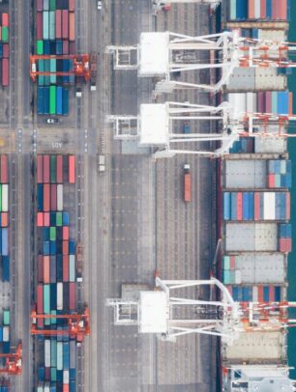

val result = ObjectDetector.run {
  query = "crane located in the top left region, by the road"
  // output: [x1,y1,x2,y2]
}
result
[29,53,92,88]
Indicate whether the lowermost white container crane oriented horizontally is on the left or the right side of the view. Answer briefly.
right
